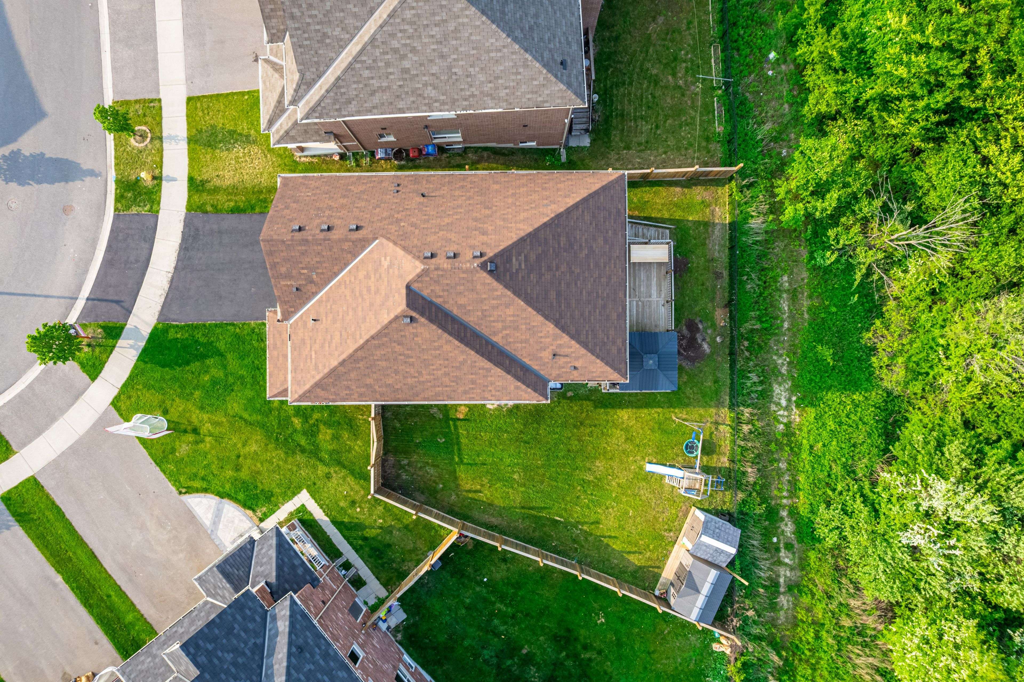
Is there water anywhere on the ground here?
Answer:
No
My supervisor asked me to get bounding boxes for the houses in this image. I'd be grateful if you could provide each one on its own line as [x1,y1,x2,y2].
[256,0,603,154]
[114,514,431,682]
[260,169,630,406]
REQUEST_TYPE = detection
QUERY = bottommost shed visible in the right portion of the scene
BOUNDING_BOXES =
[667,552,733,626]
